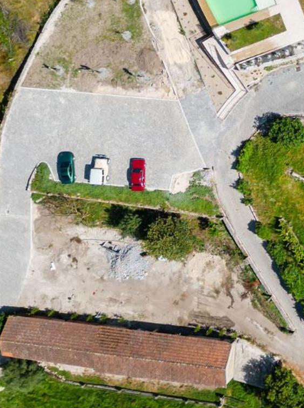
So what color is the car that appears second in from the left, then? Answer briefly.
white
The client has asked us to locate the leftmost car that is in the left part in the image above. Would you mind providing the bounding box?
[53,152,73,186]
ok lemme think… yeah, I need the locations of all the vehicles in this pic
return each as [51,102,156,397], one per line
[86,155,108,187]
[125,158,144,193]
[53,152,73,186]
